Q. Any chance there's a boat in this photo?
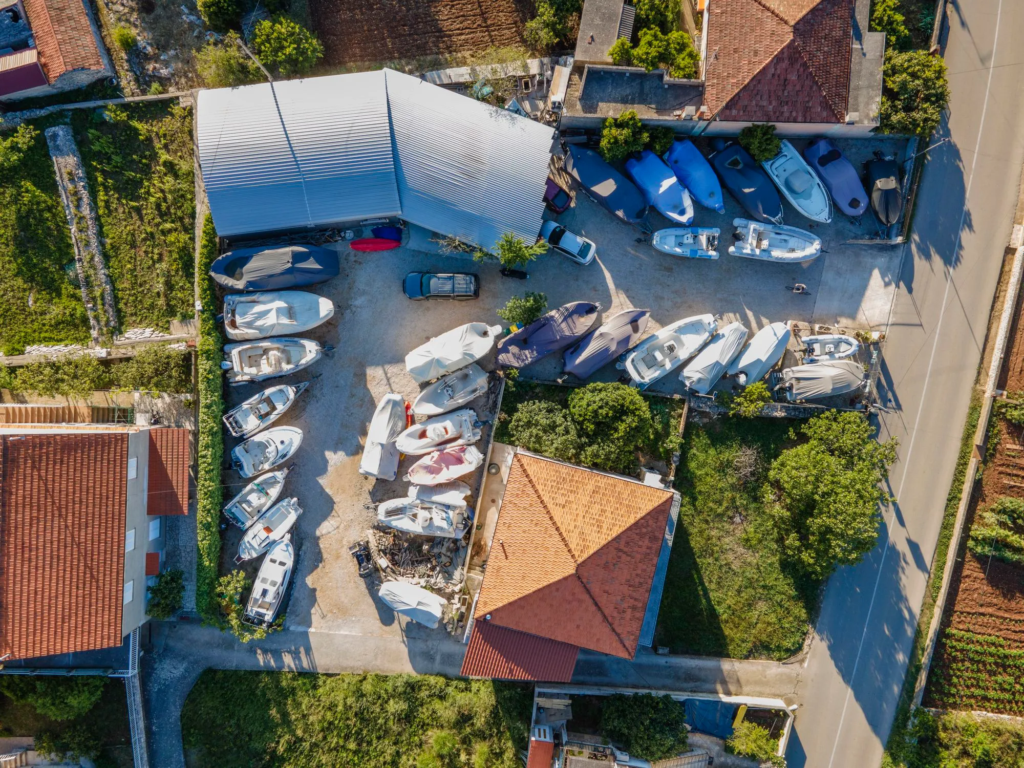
Yes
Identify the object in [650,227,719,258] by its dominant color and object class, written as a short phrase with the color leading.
blue boat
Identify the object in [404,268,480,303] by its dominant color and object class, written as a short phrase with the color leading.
blue truck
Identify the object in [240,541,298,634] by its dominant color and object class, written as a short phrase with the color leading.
white boat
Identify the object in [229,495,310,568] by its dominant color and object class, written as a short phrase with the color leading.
white boat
